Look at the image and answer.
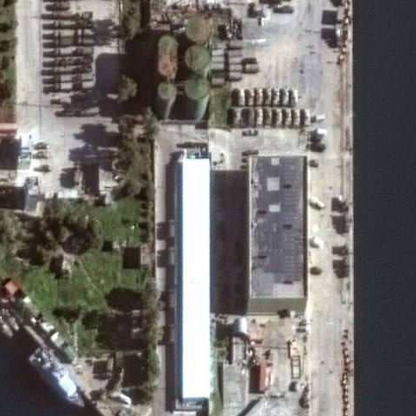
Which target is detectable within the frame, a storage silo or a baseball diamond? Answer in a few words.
storage silo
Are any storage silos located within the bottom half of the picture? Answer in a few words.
No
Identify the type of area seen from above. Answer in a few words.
port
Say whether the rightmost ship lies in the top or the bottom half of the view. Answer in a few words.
bottom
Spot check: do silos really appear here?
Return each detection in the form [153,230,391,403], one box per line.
[182,15,211,52]
[182,45,211,83]
[155,35,178,67]
[155,62,177,92]
[182,77,211,118]
[155,82,177,117]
